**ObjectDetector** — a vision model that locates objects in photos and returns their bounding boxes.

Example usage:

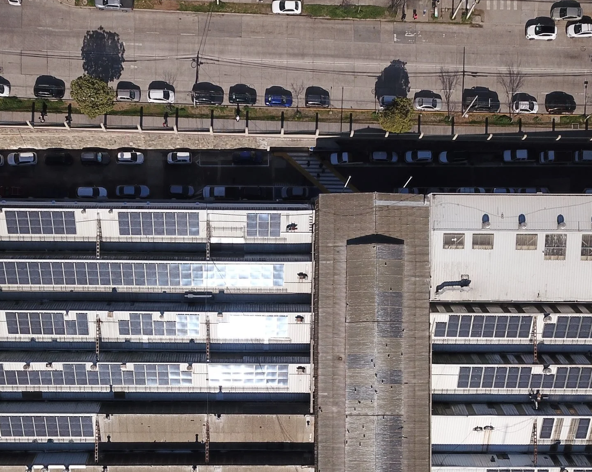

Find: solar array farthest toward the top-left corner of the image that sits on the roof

[5,212,77,237]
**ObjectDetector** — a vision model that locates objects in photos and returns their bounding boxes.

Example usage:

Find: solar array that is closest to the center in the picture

[246,214,281,238]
